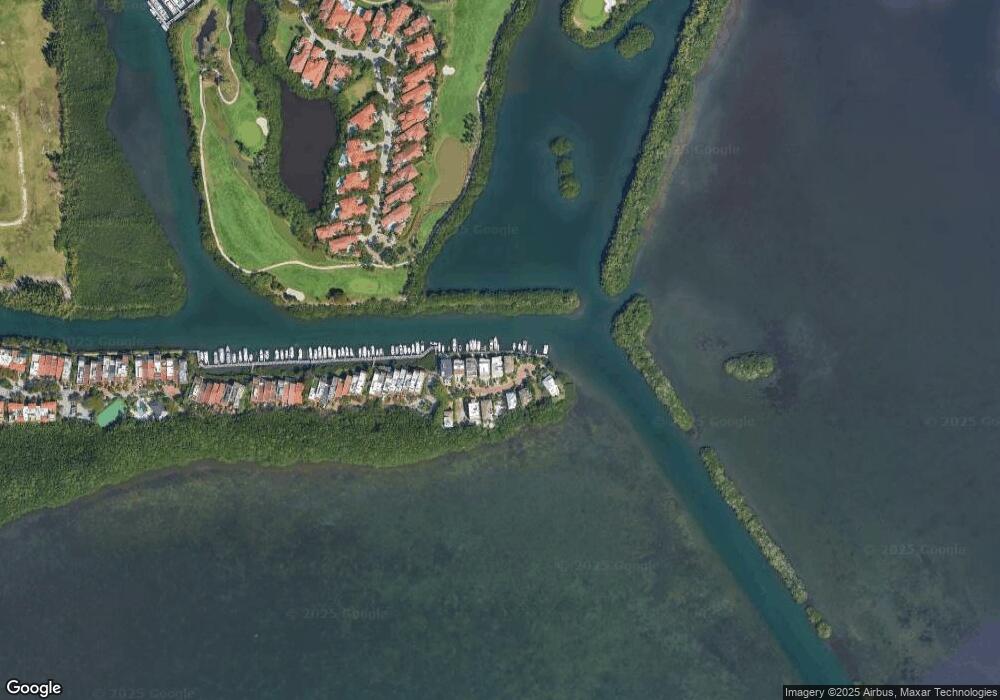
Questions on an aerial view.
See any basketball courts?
No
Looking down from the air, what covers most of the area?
water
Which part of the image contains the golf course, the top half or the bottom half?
top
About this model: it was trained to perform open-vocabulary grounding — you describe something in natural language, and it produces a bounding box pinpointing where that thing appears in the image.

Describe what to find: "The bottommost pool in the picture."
[131,397,150,417]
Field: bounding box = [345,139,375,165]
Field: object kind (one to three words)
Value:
house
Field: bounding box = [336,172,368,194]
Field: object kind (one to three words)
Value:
house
